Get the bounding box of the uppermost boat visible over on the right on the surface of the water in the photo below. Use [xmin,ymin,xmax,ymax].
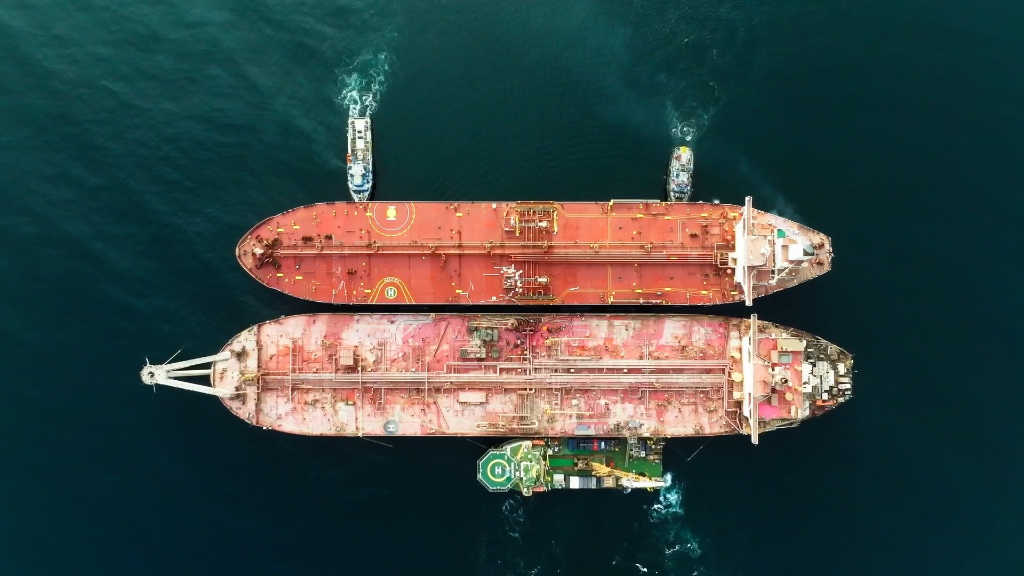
[663,146,694,202]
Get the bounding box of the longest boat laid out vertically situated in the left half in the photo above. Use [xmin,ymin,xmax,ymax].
[346,117,375,201]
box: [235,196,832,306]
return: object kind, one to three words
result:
ship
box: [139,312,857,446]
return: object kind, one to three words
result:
ship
